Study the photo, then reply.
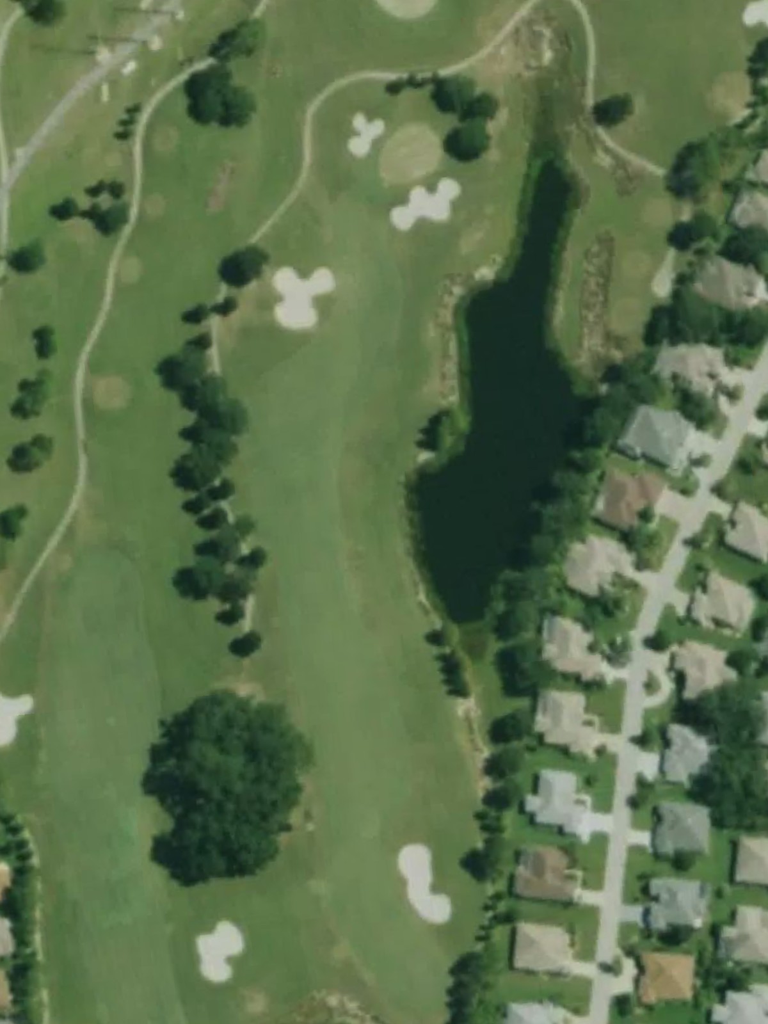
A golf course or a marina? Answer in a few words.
golf course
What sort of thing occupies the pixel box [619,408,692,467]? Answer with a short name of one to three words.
house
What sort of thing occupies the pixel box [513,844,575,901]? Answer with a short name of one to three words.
house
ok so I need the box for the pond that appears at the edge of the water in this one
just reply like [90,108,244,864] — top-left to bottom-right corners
[415,161,591,623]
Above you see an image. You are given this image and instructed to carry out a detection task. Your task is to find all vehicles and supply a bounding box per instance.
[122,59,137,73]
